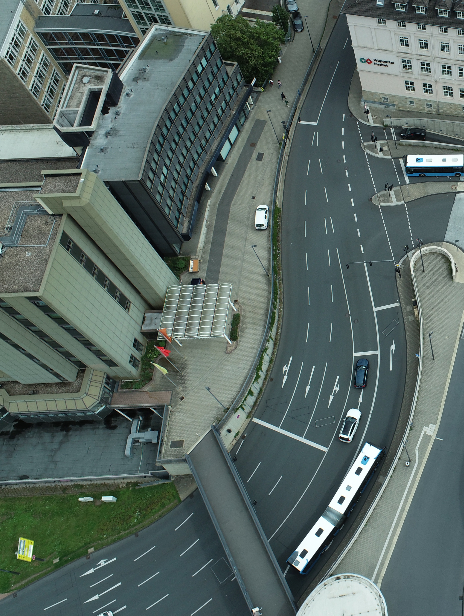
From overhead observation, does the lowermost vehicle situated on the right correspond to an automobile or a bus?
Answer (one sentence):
The lowermost vehicle situated on the right in the image is a bus.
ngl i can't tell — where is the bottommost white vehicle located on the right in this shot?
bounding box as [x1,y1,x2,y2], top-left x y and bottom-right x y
[288,441,383,578]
